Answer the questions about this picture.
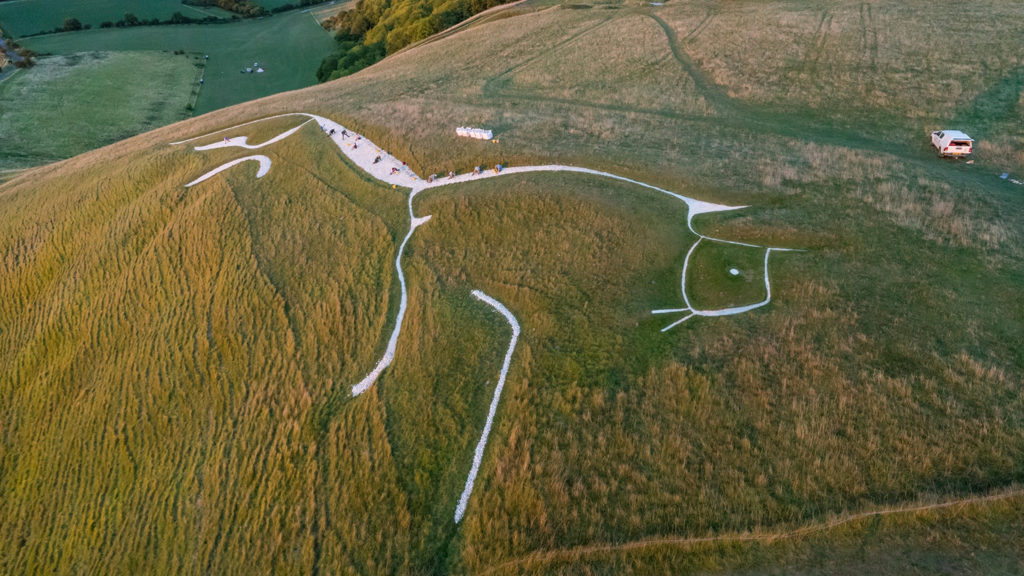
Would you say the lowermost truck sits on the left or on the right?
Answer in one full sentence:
The lowermost truck appears in the right half of the scene.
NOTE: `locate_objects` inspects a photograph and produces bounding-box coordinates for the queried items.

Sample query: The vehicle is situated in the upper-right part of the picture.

[932,123,976,158]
